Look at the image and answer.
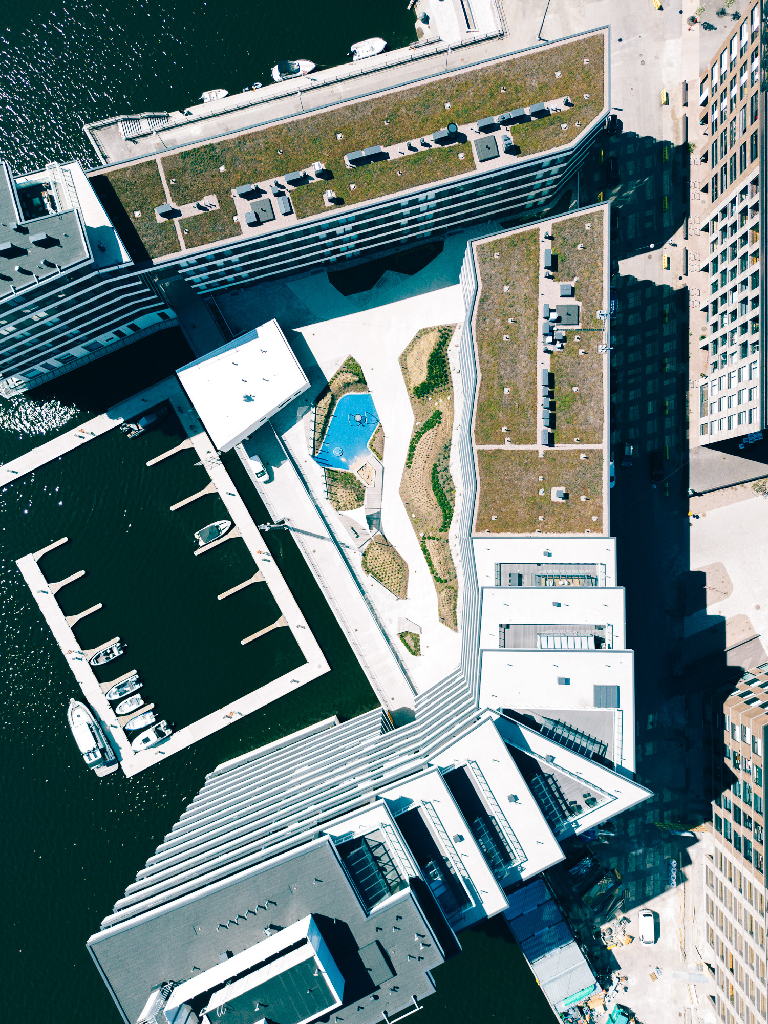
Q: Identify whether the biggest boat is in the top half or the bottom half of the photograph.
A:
bottom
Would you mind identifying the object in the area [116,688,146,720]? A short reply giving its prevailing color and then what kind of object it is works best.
white boat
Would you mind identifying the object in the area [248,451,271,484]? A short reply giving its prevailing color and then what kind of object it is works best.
white vehicle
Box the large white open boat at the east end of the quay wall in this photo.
[350,38,386,60]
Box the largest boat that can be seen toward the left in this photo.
[71,697,120,776]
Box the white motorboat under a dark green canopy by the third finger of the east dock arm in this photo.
[192,514,230,549]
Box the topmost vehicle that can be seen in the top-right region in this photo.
[606,114,619,137]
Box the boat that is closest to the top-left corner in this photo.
[198,87,230,103]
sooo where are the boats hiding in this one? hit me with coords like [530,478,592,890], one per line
[116,688,146,720]
[106,670,144,708]
[350,38,386,60]
[246,83,263,91]
[192,514,230,549]
[125,706,157,737]
[272,53,318,83]
[132,717,172,755]
[198,87,230,103]
[71,697,120,776]
[91,639,125,670]
[121,401,166,442]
